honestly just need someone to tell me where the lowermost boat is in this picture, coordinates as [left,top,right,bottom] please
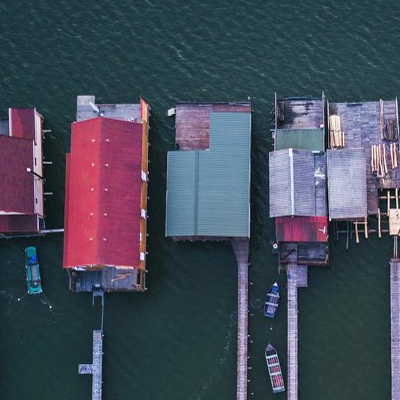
[265,343,286,394]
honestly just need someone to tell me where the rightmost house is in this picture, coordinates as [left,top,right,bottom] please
[327,96,400,250]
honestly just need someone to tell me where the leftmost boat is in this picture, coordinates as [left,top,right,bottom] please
[20,246,51,306]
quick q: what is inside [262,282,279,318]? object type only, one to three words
boat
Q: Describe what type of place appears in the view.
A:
residential area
